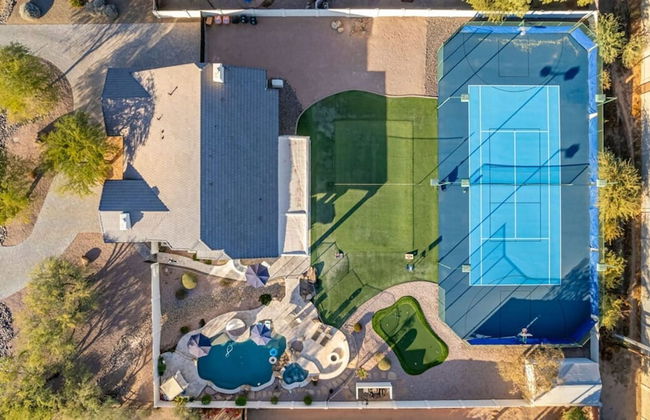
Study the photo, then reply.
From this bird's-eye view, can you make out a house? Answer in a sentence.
Yes, the image includes a house.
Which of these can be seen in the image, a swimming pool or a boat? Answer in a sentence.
The image shows a swimming pool.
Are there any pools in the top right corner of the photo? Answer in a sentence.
No, there is no pool in the top right corner of the photo.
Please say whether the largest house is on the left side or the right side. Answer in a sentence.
You can find the largest house on the left side of the picture.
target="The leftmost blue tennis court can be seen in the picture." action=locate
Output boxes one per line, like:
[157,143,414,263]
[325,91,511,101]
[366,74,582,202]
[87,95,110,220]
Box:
[439,32,589,338]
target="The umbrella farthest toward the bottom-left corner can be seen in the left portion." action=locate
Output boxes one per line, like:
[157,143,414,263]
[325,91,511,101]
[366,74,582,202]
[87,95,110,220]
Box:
[189,332,213,355]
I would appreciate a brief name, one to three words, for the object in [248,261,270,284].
umbrella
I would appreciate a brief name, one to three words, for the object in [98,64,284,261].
house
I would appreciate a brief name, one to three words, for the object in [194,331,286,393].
swimming pool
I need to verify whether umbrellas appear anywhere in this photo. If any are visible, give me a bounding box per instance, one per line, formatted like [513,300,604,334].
[189,332,213,355]
[248,261,270,284]
[251,322,273,344]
